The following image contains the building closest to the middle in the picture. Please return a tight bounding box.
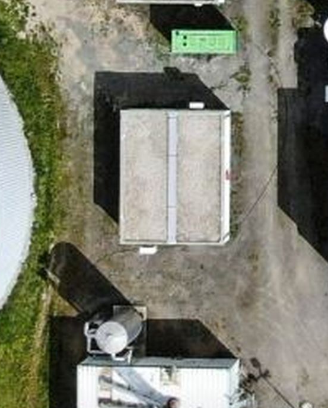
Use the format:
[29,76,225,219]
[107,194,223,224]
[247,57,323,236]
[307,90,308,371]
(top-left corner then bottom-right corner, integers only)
[120,103,233,253]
